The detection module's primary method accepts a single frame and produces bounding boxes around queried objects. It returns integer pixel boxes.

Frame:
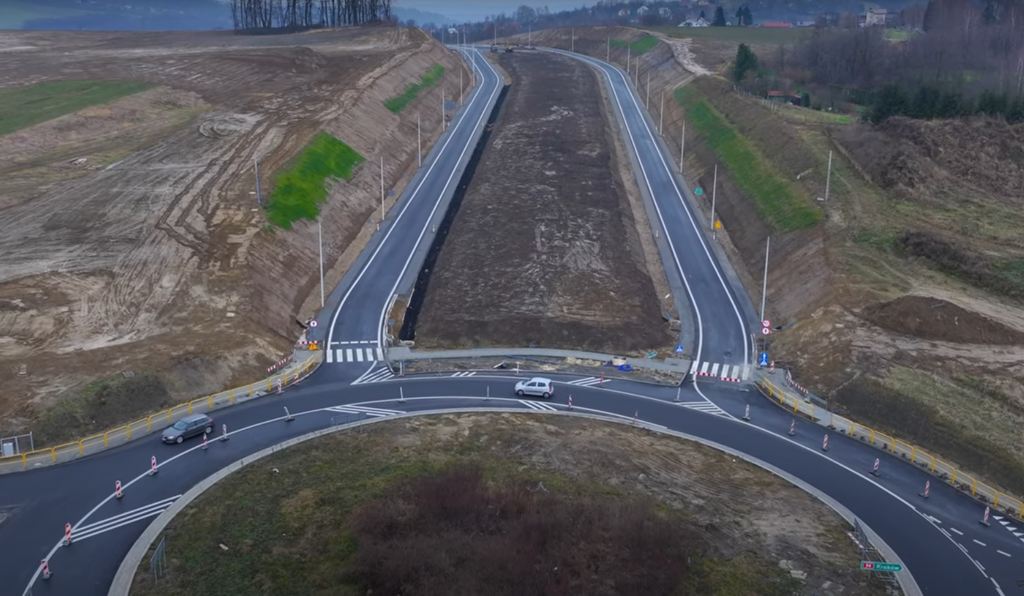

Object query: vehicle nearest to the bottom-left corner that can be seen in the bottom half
[160,411,216,443]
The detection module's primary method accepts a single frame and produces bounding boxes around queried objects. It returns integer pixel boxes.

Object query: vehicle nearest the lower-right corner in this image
[514,376,555,397]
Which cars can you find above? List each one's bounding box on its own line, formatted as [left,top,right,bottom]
[514,376,555,397]
[160,411,216,443]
